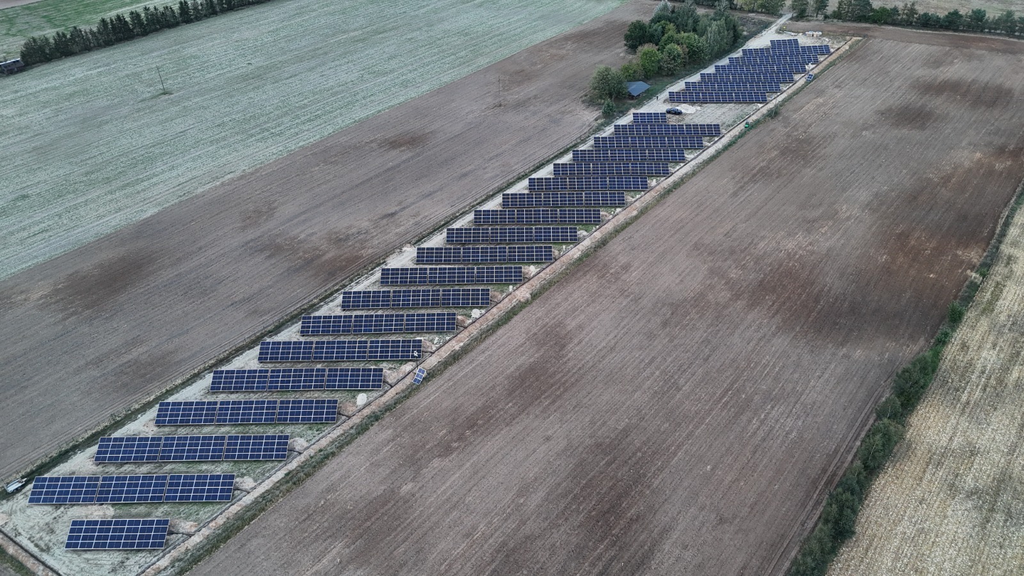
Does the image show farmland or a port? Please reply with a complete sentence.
The area seen from above is farmland.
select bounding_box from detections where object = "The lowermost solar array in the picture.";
[65,519,169,549]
